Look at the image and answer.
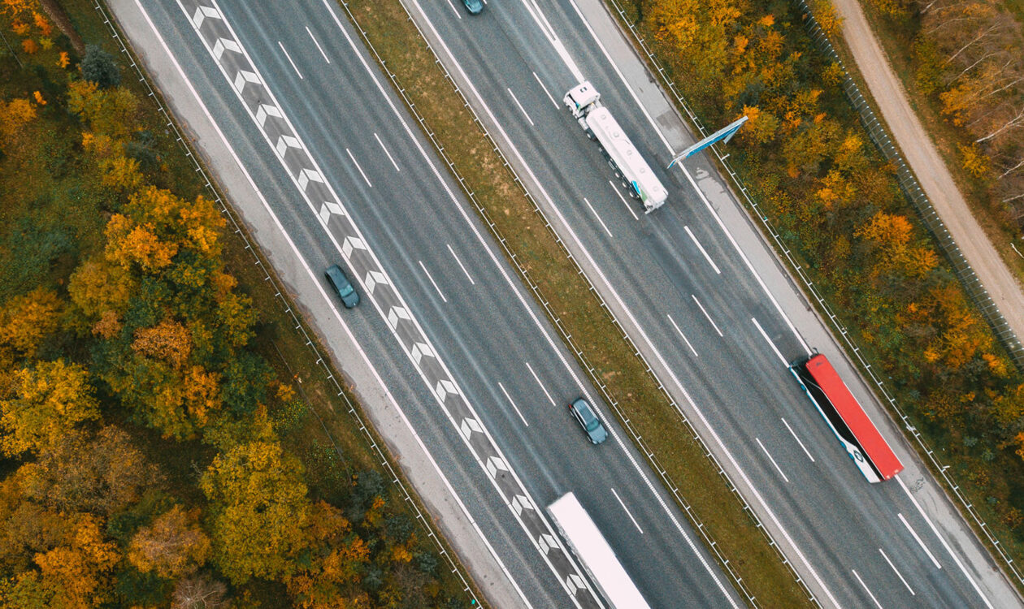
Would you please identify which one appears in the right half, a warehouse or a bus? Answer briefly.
bus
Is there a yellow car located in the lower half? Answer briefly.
No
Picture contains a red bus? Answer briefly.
Yes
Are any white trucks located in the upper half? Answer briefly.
Yes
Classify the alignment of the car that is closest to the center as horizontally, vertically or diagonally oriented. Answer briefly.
diagonally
